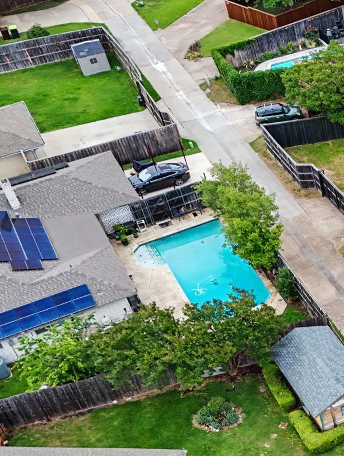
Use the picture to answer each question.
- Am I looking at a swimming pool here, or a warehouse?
swimming pool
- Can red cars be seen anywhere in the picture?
No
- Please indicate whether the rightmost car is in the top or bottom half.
top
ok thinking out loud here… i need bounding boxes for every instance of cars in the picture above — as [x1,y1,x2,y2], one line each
[130,162,191,195]
[253,97,303,123]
